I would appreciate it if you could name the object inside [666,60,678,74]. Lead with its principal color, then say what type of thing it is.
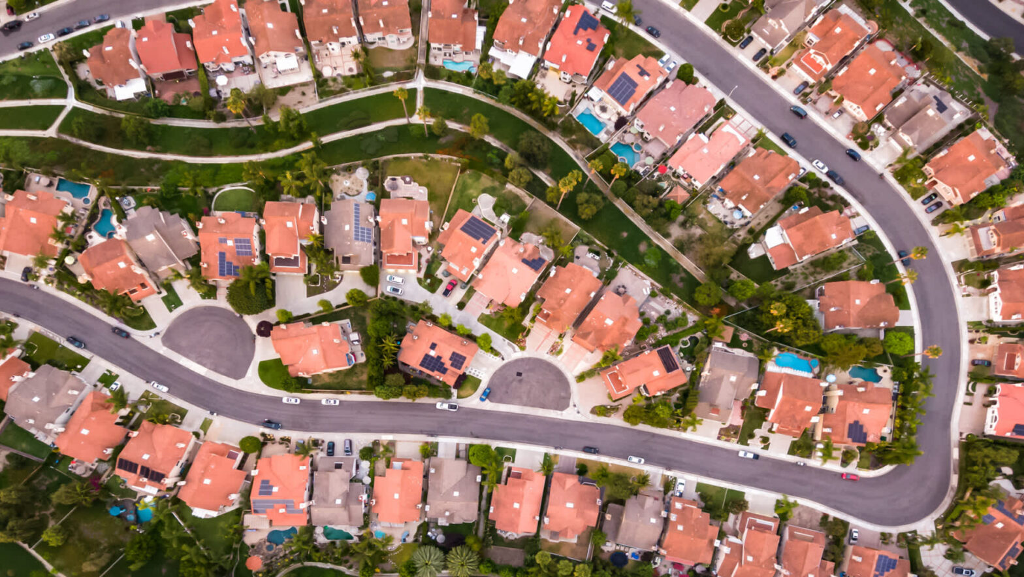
white vehicle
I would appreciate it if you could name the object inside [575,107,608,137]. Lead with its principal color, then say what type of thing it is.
blue swimming pool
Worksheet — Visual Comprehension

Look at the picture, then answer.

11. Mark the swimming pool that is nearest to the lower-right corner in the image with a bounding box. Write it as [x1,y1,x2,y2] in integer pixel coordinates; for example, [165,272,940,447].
[848,365,885,384]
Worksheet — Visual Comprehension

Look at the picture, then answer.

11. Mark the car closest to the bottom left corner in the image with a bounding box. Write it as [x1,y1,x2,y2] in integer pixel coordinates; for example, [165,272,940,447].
[108,378,122,394]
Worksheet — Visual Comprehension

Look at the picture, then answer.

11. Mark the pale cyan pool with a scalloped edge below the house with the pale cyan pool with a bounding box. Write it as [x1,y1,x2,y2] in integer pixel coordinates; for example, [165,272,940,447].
[443,59,478,75]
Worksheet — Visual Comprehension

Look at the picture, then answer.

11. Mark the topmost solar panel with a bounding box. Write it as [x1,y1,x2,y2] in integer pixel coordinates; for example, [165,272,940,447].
[574,11,599,34]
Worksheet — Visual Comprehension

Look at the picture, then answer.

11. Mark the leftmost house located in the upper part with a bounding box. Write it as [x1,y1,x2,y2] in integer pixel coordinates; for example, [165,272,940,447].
[0,190,76,258]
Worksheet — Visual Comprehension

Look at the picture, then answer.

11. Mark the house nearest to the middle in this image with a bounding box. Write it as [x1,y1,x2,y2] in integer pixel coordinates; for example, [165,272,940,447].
[474,235,549,313]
